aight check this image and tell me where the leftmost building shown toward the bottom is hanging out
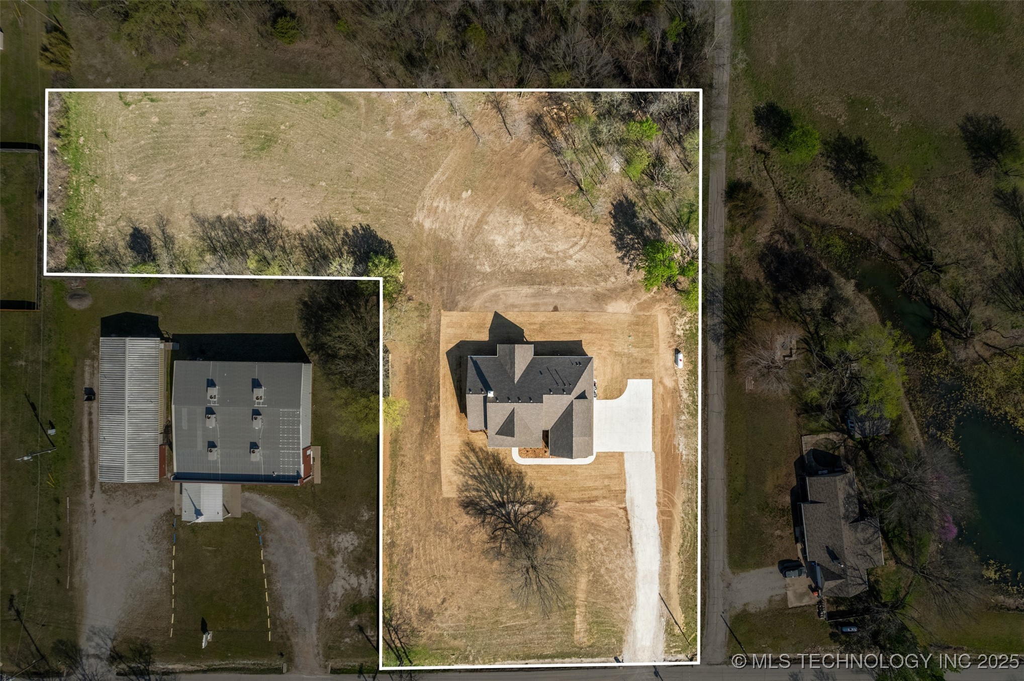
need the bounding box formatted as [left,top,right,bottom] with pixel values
[99,337,165,483]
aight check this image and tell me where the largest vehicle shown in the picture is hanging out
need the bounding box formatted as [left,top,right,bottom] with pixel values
[781,567,805,579]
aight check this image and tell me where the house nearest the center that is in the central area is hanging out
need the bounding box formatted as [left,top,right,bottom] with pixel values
[466,344,594,459]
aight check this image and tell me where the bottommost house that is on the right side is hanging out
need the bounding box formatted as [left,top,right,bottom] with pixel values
[802,471,884,597]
